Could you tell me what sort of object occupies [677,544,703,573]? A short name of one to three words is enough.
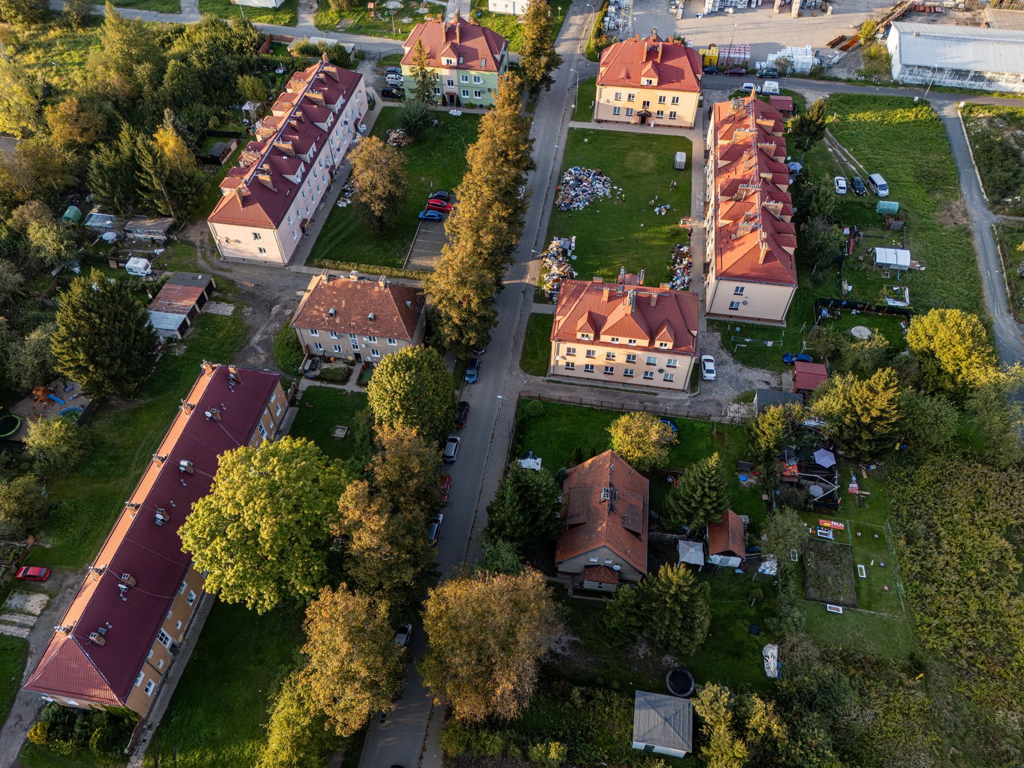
gazebo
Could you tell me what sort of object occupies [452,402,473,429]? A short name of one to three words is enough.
car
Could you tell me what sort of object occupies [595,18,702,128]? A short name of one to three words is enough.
house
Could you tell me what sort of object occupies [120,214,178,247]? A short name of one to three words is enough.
shed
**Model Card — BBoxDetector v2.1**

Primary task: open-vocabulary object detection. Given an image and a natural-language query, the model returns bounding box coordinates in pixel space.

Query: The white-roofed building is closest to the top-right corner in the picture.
[885,28,1024,94]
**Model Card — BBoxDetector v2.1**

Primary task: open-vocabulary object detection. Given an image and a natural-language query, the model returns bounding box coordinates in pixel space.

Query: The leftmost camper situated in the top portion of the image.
[121,255,158,276]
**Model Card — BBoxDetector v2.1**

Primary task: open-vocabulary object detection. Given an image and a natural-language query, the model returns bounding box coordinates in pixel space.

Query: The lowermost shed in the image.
[631,688,693,760]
